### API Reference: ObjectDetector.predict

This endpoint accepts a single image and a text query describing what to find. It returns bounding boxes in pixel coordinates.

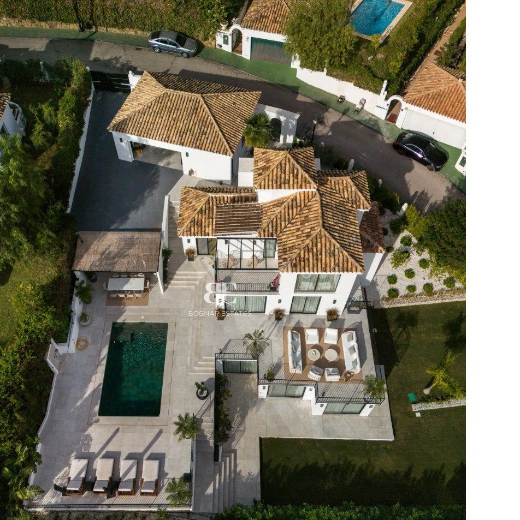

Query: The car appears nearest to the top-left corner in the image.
[147,33,197,58]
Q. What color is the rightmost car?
black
